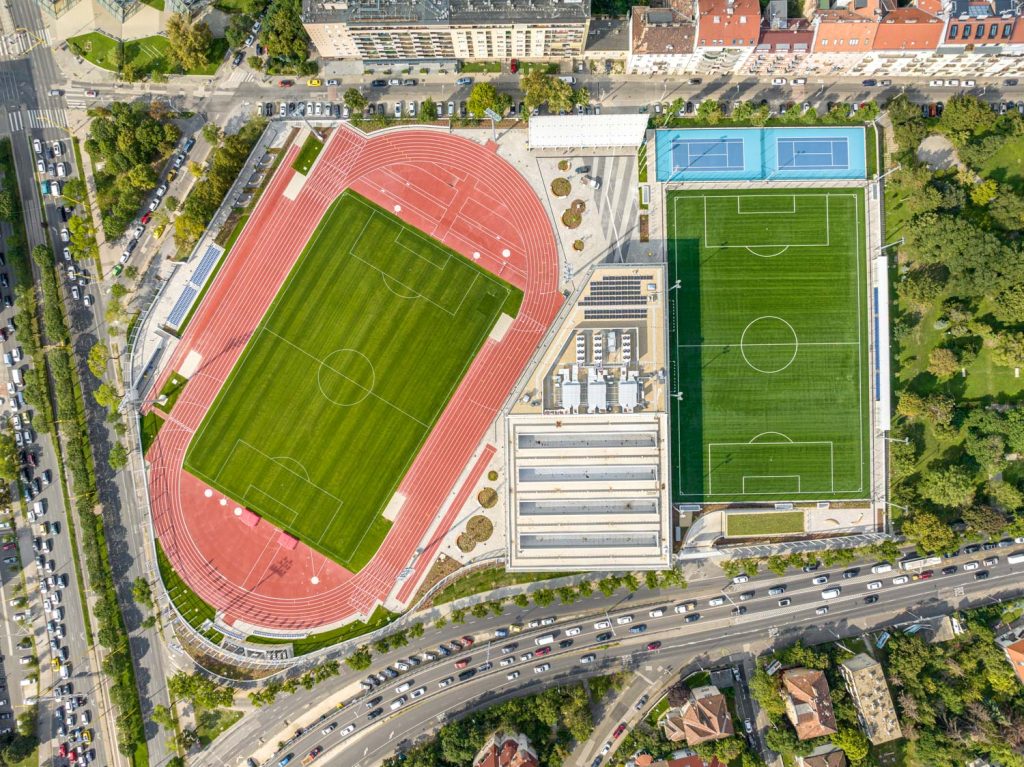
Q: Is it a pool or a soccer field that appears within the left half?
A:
soccer field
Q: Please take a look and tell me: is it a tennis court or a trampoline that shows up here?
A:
tennis court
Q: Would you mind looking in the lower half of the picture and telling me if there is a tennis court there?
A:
No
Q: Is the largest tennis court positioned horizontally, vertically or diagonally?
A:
horizontally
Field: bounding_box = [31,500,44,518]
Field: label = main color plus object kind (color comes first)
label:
white vehicle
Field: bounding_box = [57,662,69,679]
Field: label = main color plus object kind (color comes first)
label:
white vehicle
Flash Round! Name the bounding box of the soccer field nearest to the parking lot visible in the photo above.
[182,188,525,572]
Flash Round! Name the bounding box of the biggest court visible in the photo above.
[656,126,866,181]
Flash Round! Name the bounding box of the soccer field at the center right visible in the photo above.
[667,188,870,503]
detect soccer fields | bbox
[667,188,870,503]
[182,188,525,572]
